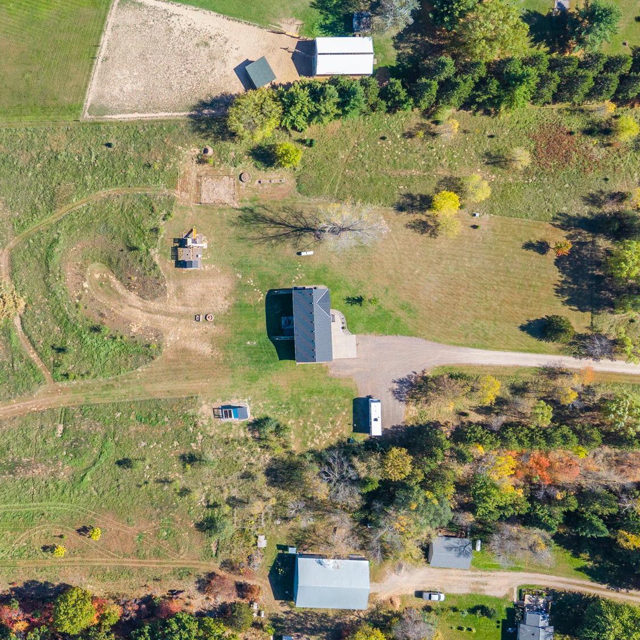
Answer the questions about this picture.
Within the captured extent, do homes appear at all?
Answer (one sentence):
Yes, the frame does contain a home.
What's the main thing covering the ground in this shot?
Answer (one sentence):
The largest share of the image is taken up by grass.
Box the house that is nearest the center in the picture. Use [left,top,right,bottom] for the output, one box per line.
[291,287,333,363]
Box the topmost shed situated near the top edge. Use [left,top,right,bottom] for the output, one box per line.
[352,13,371,36]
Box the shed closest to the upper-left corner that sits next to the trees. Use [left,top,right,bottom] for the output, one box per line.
[246,57,276,86]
